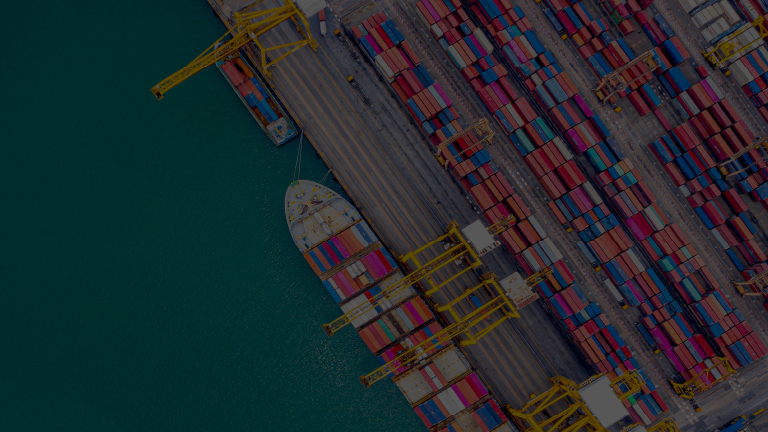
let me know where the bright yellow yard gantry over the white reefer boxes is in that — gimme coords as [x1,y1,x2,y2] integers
[698,17,768,72]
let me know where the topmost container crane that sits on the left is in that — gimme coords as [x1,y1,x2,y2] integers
[146,0,334,97]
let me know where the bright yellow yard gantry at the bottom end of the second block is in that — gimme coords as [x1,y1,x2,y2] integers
[662,346,742,400]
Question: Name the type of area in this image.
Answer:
port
